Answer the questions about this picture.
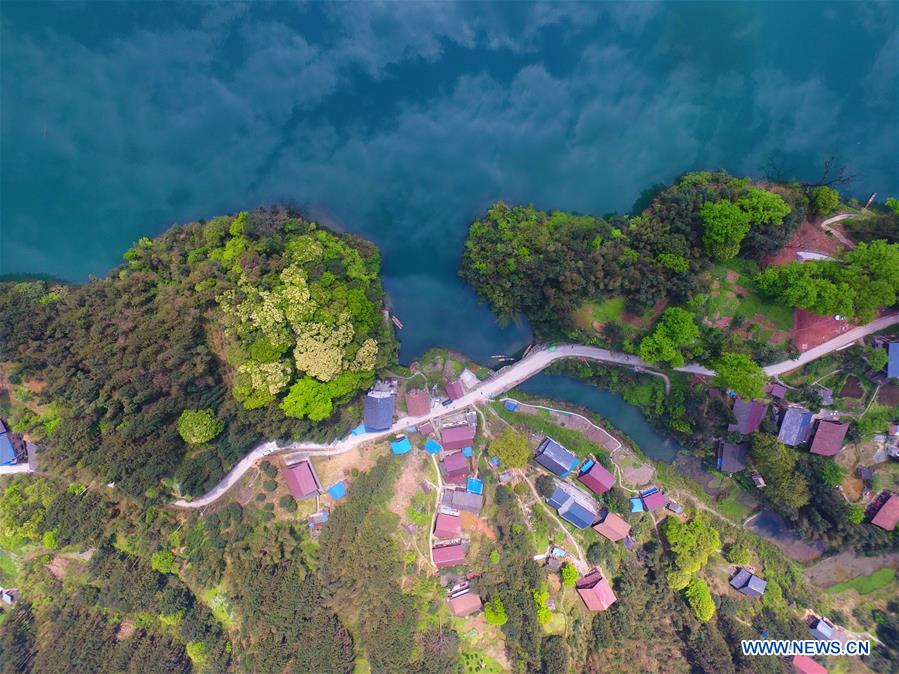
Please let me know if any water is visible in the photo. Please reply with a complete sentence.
Yes, water can be seen from above here.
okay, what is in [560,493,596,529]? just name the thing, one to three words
house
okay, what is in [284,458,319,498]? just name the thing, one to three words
house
